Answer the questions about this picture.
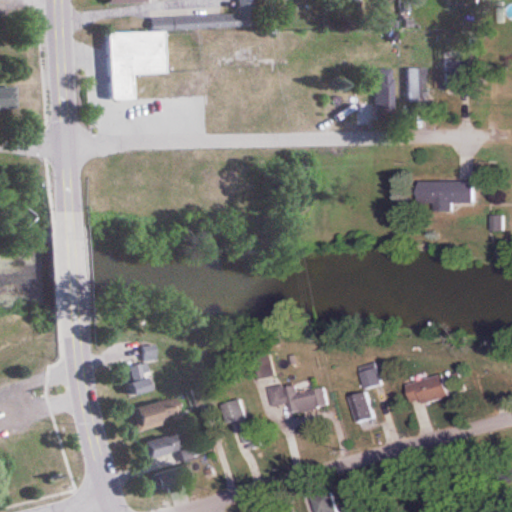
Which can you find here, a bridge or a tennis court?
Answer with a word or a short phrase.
bridge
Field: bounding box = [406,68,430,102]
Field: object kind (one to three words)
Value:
house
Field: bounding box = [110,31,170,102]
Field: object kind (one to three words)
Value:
building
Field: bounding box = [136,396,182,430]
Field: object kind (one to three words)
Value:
house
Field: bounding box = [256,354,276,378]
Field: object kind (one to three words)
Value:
building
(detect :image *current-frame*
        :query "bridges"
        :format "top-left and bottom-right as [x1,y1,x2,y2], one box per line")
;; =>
[51,211,96,317]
